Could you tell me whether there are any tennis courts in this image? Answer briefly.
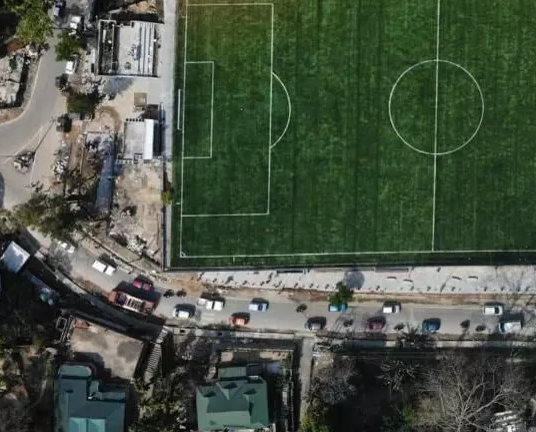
No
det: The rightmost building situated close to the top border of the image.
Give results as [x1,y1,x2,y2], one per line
[98,19,160,79]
